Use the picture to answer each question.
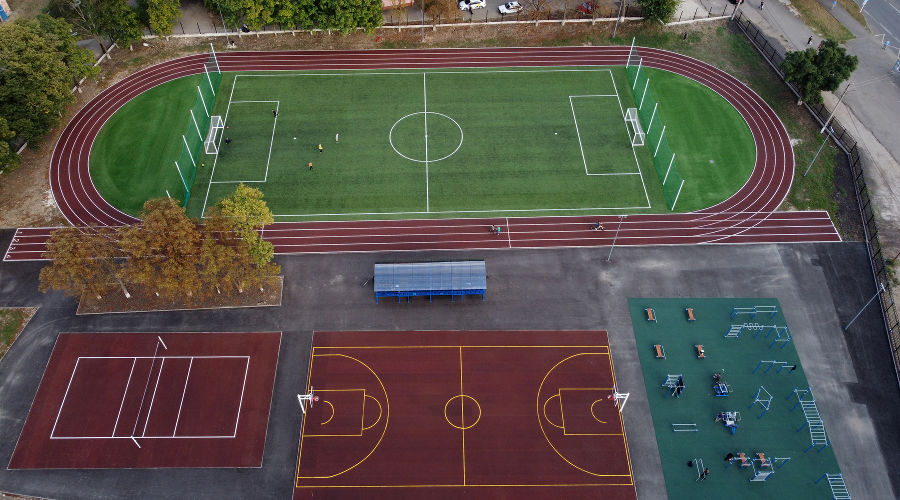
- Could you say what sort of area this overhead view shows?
sports ground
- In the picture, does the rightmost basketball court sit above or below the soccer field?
below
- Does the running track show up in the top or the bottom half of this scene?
top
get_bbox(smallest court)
[5,330,283,470]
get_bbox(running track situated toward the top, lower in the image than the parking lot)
[3,46,841,261]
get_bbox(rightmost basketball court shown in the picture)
[292,330,638,500]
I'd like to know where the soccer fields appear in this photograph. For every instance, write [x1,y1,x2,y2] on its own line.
[184,66,671,224]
